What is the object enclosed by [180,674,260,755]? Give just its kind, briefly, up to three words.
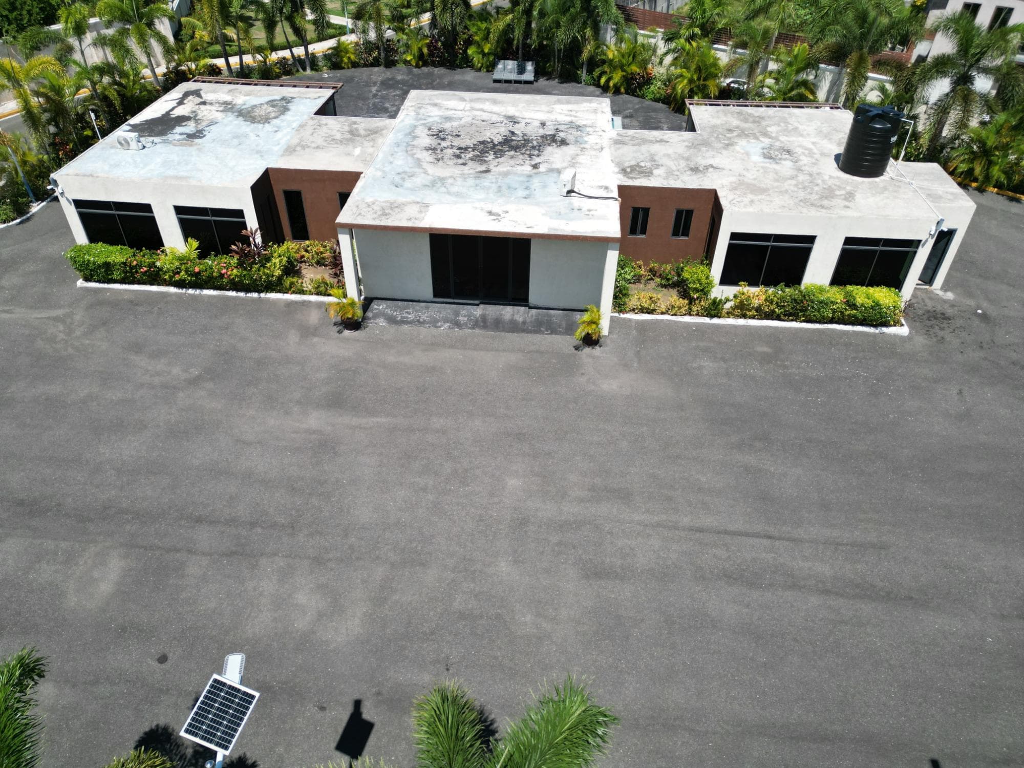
solar panel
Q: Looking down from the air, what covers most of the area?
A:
paved ground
